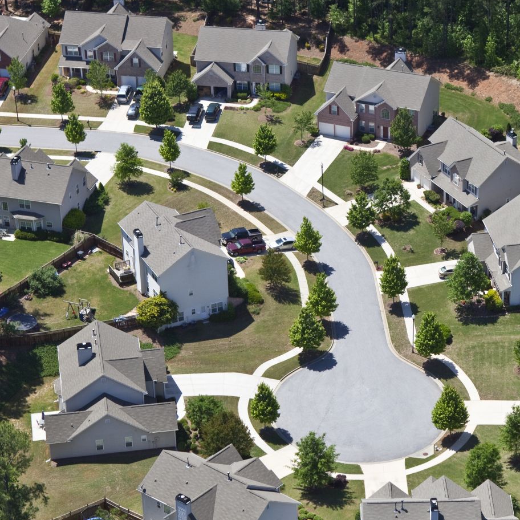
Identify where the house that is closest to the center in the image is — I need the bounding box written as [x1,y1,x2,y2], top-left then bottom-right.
[103,199,227,331]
